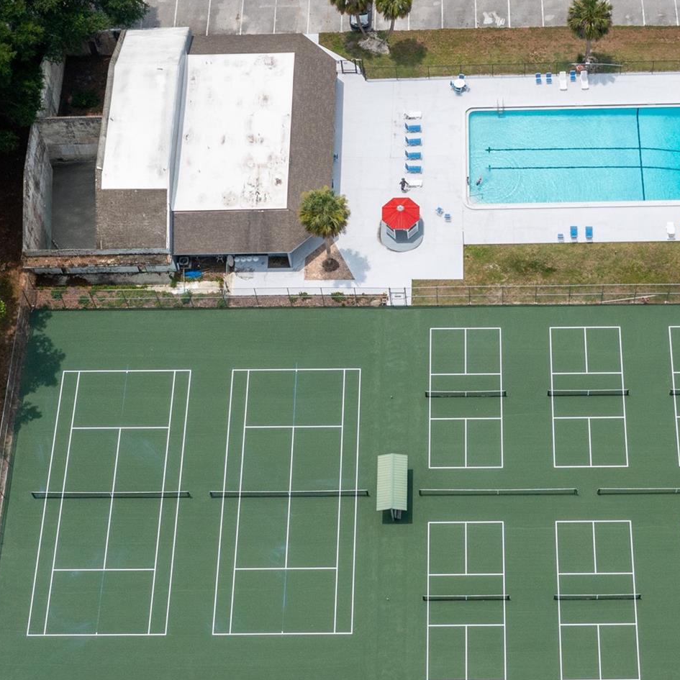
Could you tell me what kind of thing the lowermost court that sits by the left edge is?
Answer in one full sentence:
The lowermost court that sits by the left edge can be classified as a tennis court.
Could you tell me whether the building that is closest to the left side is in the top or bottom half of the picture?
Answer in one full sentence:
The top half of the photo is where the building that is closest to the left side is.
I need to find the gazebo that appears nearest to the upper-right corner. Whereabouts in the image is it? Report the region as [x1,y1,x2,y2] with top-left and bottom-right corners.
[380,198,423,252]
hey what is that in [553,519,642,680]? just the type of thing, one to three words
sports court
